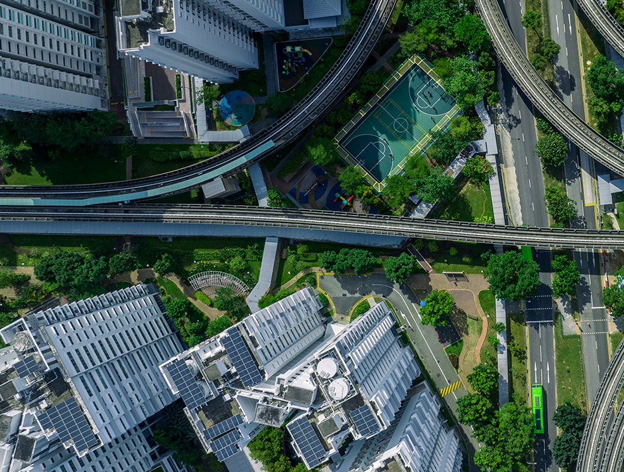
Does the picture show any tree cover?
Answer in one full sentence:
Yes, some tree cover is visible.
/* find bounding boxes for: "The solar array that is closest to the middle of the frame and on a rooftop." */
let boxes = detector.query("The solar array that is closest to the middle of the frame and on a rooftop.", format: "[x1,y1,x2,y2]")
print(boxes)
[222,328,263,387]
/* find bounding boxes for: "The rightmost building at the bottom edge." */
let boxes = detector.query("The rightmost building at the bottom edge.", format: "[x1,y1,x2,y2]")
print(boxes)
[370,377,470,472]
